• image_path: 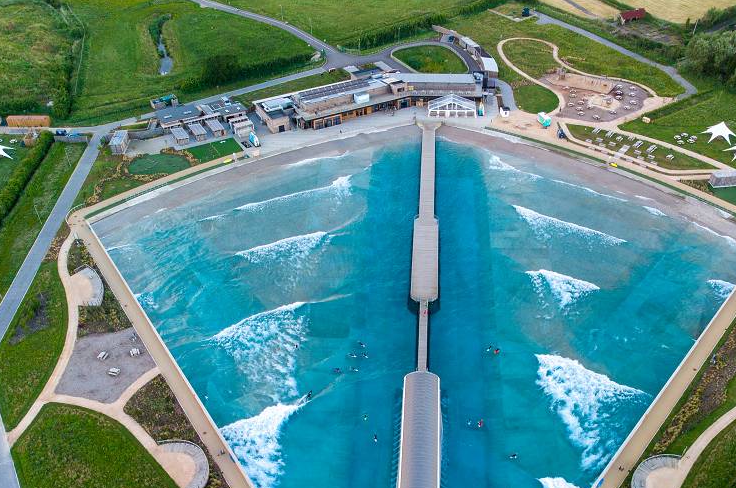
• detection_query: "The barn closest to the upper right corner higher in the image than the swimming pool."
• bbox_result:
[621,6,648,25]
